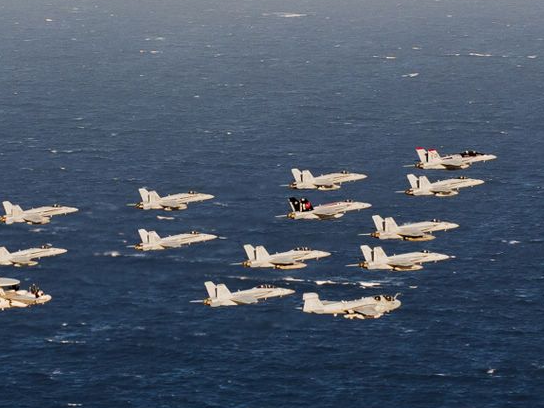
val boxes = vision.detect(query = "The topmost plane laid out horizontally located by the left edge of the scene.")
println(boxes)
[0,201,78,223]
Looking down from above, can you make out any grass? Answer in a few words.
No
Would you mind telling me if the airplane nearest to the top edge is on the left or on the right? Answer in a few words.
right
